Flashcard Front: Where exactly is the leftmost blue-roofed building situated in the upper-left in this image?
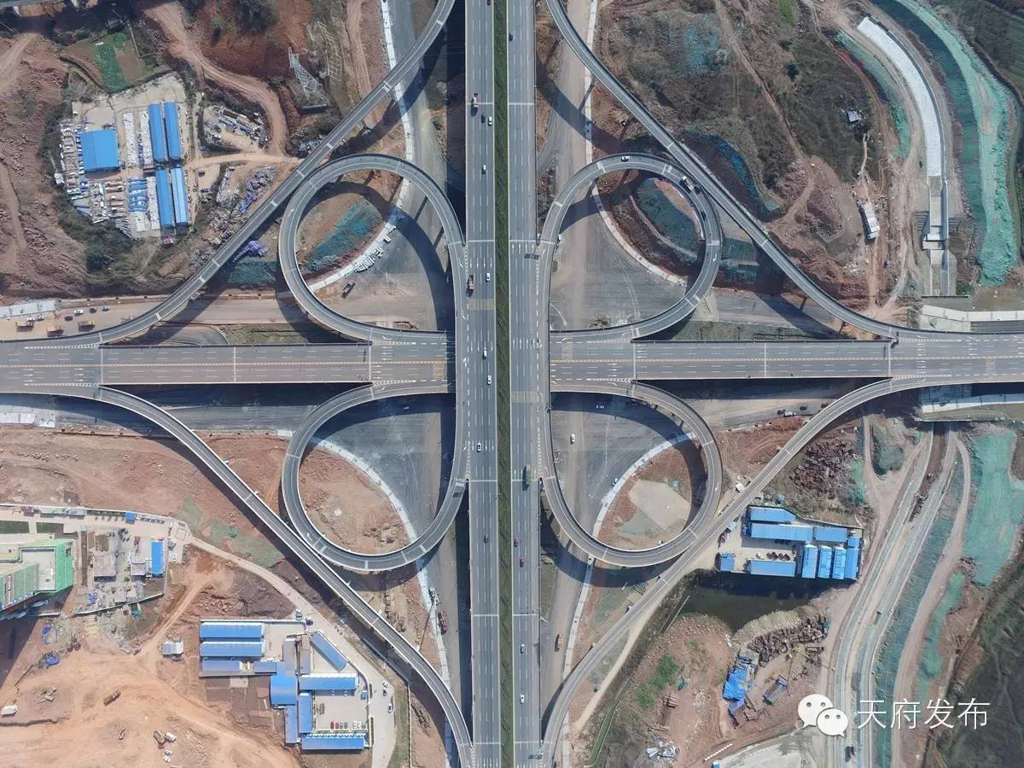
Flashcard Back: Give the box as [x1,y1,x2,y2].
[82,129,125,175]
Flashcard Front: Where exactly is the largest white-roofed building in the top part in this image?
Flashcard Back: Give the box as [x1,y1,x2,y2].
[860,202,878,238]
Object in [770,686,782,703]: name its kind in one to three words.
vehicle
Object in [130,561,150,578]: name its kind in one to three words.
house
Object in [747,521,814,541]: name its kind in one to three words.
shed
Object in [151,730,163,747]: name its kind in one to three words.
vehicle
